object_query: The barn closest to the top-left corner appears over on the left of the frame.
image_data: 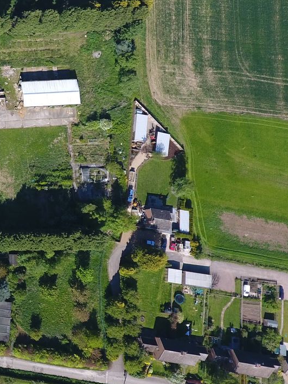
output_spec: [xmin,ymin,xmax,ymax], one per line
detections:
[18,79,82,109]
